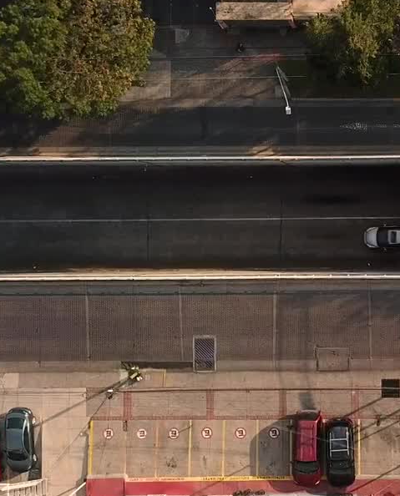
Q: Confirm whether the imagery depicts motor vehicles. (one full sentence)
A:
Yes, the photo shows a motor vehicle.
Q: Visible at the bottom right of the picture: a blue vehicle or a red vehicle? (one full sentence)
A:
Looking at the bottom right of the picture, you will find a red vehicle.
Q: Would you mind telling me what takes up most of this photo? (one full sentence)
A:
The bulk of the photo consists of paved ground.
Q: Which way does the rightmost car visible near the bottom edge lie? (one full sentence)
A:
I'd say the rightmost car visible near the bottom edge is aligned from top to bottom in the picture.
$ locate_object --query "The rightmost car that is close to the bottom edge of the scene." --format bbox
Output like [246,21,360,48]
[324,418,357,486]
